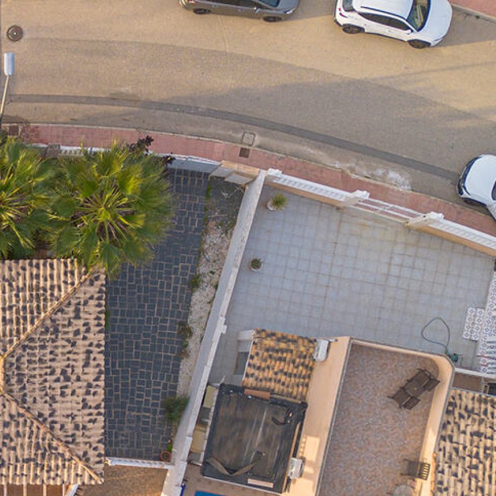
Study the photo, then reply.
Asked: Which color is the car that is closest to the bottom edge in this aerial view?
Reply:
white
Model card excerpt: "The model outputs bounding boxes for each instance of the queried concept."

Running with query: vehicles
[340,0,458,49]
[179,0,300,22]
[460,156,496,214]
